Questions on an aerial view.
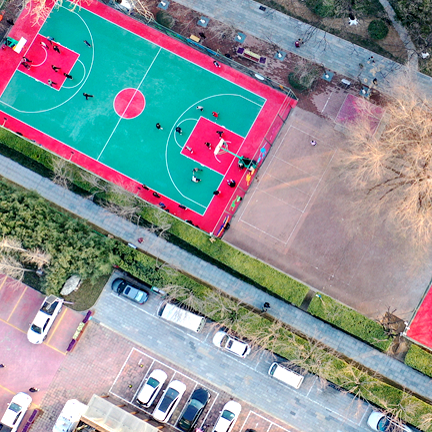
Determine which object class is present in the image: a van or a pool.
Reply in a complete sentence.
Looking from above, you can make out a van.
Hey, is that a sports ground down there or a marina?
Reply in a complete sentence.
What you see here is a sports ground.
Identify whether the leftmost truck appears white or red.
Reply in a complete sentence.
The color of the leftmost truck is white.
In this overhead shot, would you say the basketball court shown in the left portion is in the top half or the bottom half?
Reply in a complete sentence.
You can find the basketball court shown in the left portion in the top half.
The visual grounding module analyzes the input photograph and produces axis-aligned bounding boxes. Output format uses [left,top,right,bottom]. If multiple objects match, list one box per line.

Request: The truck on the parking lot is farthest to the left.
[0,392,33,432]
